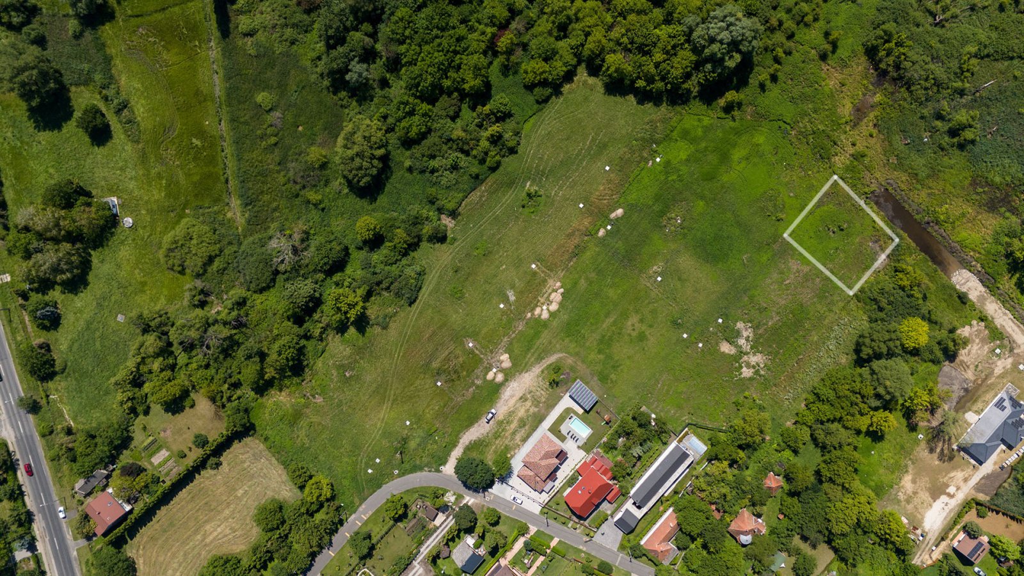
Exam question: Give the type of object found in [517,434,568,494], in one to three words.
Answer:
house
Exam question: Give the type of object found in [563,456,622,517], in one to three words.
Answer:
house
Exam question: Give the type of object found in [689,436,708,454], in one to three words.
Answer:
swimming pool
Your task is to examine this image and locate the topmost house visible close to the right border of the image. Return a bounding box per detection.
[953,384,1024,467]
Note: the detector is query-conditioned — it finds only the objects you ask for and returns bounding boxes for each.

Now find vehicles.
[510,495,523,504]
[25,463,33,476]
[59,506,67,519]
[485,409,496,423]
[973,565,985,576]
